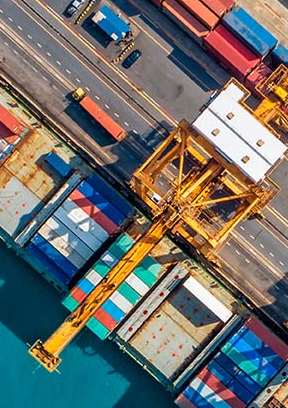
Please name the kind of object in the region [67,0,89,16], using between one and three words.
vehicle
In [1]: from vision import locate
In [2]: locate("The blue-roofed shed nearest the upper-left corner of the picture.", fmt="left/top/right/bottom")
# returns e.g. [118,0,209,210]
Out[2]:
[92,5,132,44]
